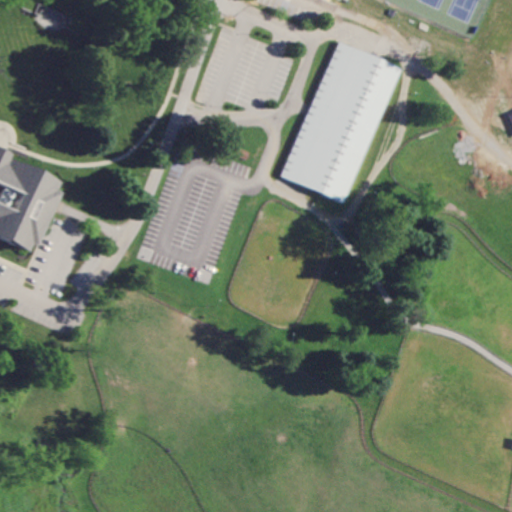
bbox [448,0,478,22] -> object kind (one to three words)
tennis court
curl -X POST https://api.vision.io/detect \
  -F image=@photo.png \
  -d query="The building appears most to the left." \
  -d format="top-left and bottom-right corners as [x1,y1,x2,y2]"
[0,146,62,252]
